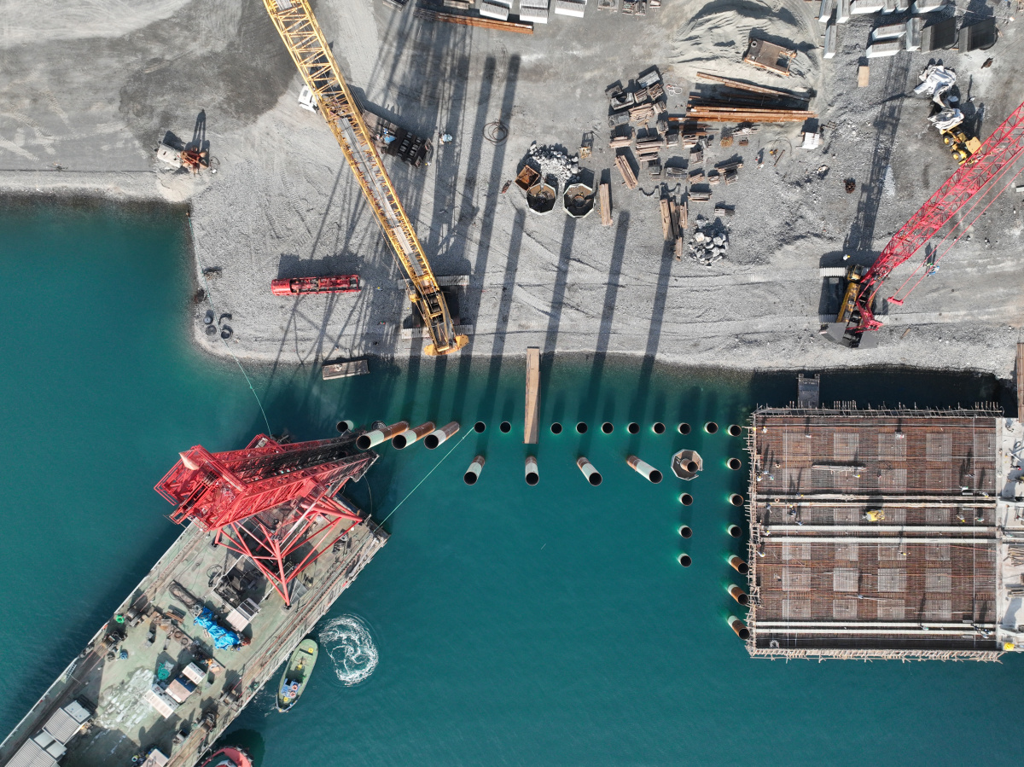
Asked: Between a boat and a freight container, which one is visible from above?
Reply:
boat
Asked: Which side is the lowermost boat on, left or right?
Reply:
left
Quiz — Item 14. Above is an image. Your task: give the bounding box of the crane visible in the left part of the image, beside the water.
[270,0,473,363]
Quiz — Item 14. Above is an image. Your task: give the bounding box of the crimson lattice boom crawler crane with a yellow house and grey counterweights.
[819,87,1024,355]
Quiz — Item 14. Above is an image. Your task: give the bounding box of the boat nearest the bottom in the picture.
[201,738,254,767]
